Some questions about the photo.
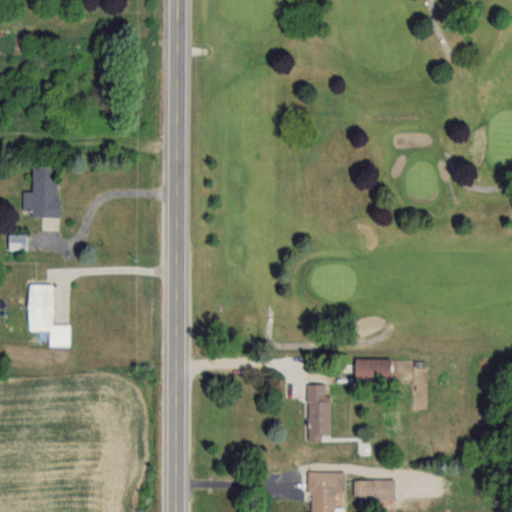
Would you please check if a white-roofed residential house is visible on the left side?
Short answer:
Yes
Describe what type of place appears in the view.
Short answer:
golf course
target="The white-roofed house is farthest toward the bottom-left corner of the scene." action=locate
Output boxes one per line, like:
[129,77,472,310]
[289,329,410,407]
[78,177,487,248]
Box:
[28,284,72,350]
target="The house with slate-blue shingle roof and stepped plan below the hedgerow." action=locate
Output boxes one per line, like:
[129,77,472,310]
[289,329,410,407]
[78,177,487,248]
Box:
[22,168,60,218]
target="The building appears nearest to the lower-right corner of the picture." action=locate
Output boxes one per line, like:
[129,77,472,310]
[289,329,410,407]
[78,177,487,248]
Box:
[354,480,394,501]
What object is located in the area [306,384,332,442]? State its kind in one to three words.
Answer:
house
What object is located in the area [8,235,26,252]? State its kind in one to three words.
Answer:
shed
